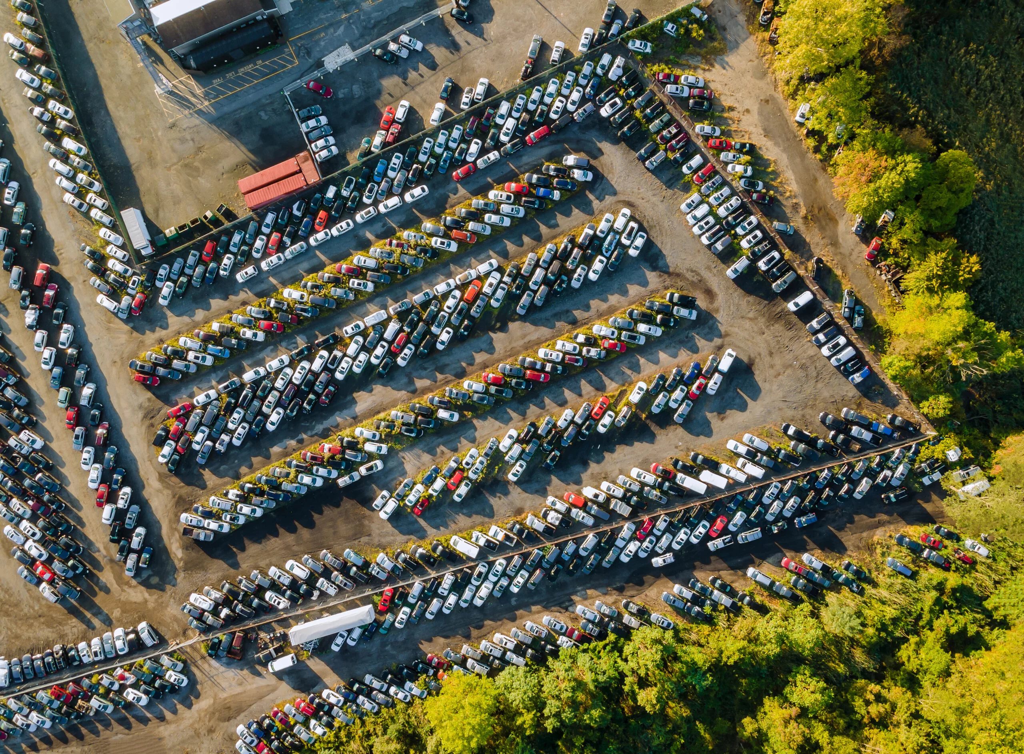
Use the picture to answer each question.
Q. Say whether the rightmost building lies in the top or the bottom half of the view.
top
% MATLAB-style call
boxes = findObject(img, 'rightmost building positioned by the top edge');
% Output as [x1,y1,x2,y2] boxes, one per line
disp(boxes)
[146,0,287,80]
